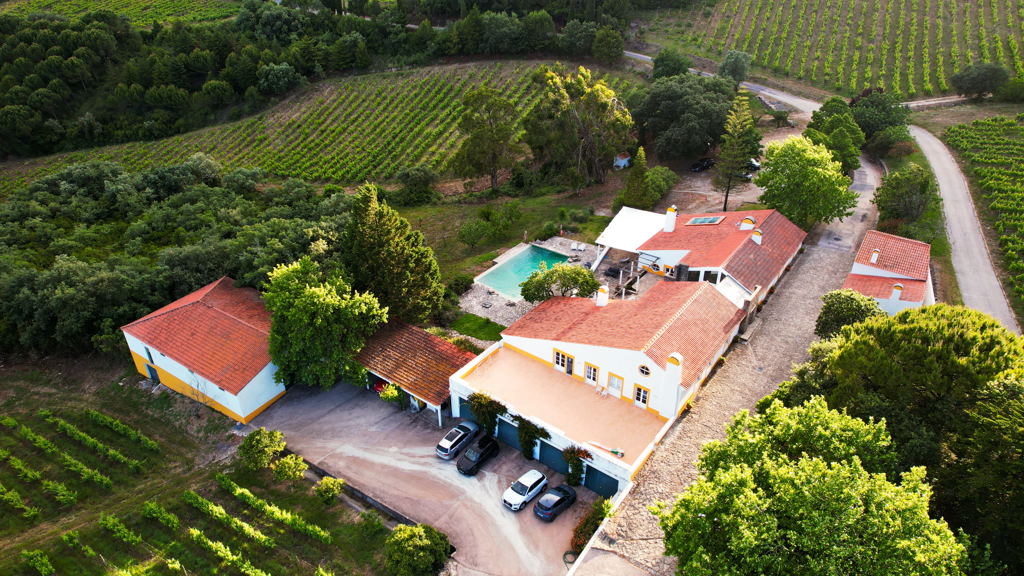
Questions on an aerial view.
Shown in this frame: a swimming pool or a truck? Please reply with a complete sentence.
There is a swimming pool in the scene.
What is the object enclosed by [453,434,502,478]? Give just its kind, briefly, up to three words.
car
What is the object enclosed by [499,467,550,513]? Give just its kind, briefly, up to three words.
car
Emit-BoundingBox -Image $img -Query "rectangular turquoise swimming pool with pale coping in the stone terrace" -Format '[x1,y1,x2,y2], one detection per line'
[473,239,574,296]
